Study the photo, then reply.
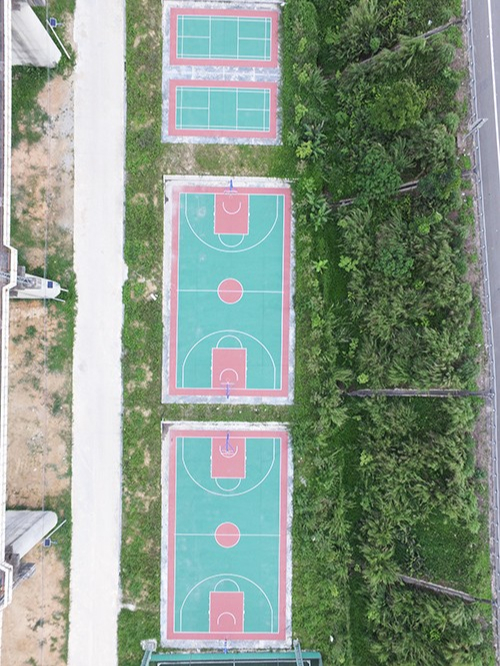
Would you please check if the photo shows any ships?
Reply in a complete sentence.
No, I can see no ship in this picture.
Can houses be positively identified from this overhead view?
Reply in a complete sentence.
No, I find no house anywhere in the image.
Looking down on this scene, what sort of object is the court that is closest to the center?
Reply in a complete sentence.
It turns out the court that is closest to the center is a basketball court.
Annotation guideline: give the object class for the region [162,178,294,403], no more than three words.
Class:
basketball court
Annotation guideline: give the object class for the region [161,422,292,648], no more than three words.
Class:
basketball court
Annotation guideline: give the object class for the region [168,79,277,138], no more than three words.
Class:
sports court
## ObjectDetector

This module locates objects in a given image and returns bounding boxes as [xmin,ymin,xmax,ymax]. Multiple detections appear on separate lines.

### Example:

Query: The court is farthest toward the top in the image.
[170,8,278,67]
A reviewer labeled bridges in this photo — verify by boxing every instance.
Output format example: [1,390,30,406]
[0,0,62,666]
